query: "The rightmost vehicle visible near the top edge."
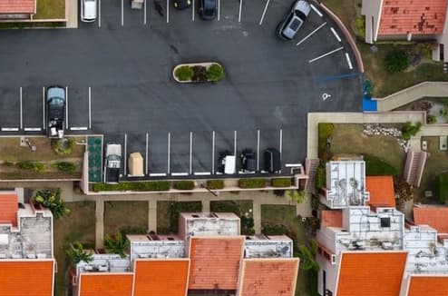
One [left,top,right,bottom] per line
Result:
[276,0,309,40]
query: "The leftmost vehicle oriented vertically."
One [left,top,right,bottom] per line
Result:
[45,85,66,138]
